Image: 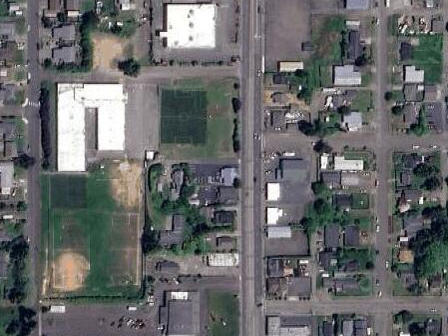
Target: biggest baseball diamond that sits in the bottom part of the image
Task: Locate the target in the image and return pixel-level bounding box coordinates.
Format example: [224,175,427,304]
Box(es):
[49,160,142,297]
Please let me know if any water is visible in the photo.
No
